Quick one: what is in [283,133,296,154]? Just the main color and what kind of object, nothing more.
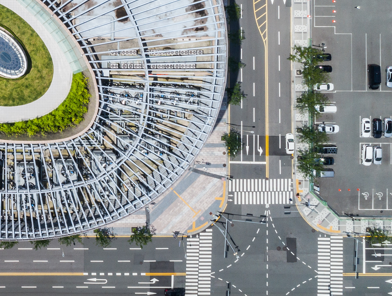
white vehicle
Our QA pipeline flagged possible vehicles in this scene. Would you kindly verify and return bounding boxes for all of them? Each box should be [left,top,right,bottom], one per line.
[318,124,339,134]
[382,117,392,138]
[315,145,337,154]
[385,66,392,87]
[283,133,296,154]
[313,82,334,91]
[368,65,382,89]
[311,52,333,62]
[373,147,383,164]
[314,156,334,165]
[313,167,336,178]
[314,103,339,114]
[361,144,374,166]
[313,65,333,74]
[371,118,383,138]
[360,118,372,138]
[165,287,185,296]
